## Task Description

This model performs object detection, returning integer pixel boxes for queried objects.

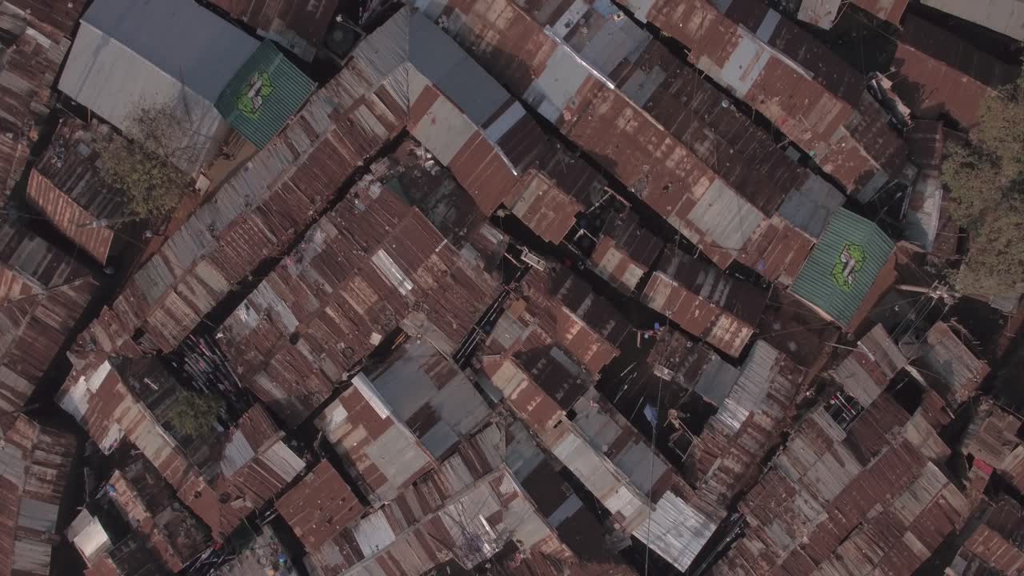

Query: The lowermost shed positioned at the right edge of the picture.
[931,543,992,576]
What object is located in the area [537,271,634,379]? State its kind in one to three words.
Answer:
house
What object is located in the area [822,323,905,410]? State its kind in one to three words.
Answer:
shed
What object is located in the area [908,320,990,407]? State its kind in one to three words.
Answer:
shed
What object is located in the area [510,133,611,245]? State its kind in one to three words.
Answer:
house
